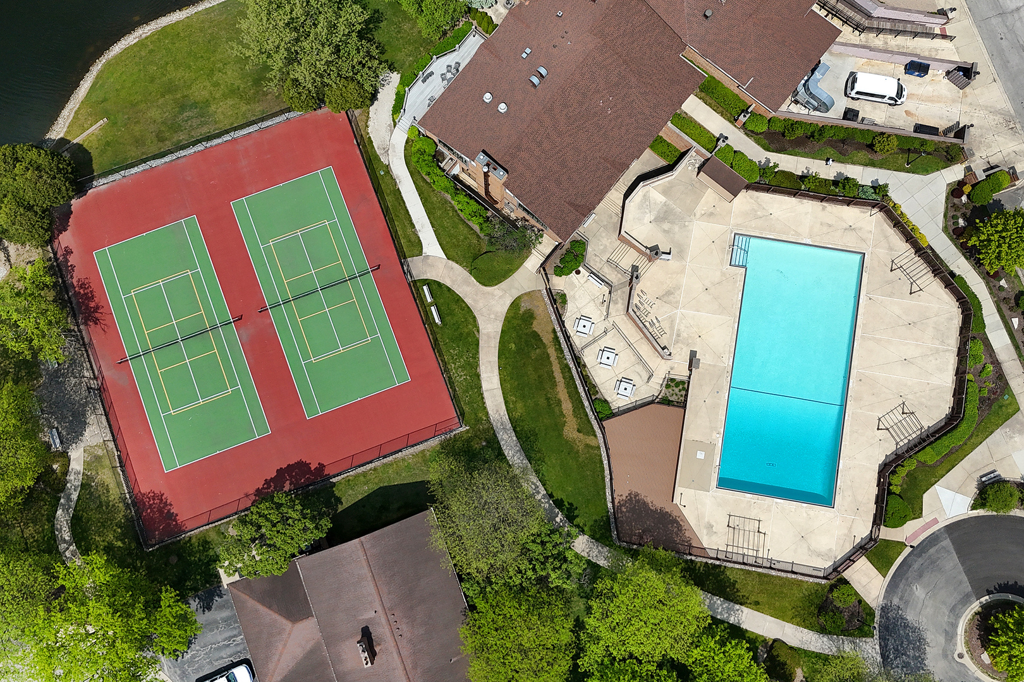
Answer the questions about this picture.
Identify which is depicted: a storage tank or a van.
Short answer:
van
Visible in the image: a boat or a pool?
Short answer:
pool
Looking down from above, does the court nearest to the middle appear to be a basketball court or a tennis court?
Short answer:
tennis court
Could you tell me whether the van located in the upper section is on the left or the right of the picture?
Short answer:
right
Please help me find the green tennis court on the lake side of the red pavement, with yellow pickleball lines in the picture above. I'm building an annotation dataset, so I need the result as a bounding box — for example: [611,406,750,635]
[93,216,271,473]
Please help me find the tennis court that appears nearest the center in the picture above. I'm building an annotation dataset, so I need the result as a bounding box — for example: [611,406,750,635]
[230,166,411,419]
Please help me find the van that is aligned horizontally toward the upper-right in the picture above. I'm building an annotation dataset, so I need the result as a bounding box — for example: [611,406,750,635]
[844,69,908,103]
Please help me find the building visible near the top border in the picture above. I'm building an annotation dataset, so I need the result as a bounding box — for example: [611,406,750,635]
[417,0,842,242]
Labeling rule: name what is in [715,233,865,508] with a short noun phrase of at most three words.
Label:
swimming pool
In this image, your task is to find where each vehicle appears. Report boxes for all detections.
[199,665,247,682]
[844,69,908,103]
